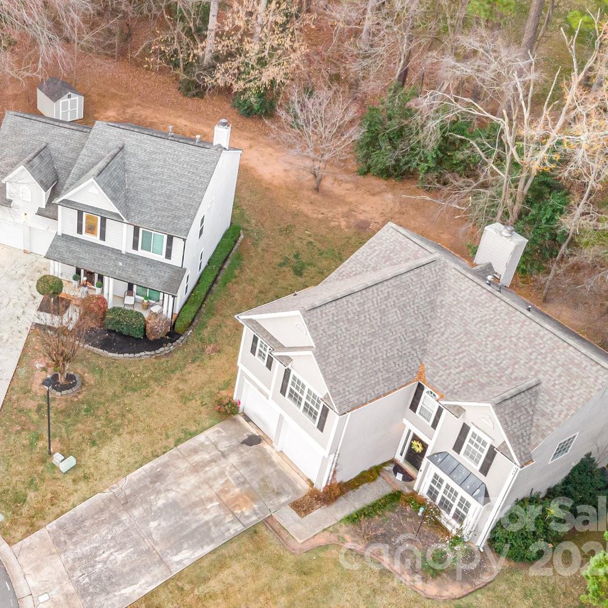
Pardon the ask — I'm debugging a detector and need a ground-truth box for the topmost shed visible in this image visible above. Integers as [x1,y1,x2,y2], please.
[41,77,86,122]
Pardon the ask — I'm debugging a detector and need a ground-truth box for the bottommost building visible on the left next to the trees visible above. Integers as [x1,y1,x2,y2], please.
[0,109,244,328]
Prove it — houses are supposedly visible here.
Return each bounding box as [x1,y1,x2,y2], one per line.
[231,218,608,551]
[0,109,244,328]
